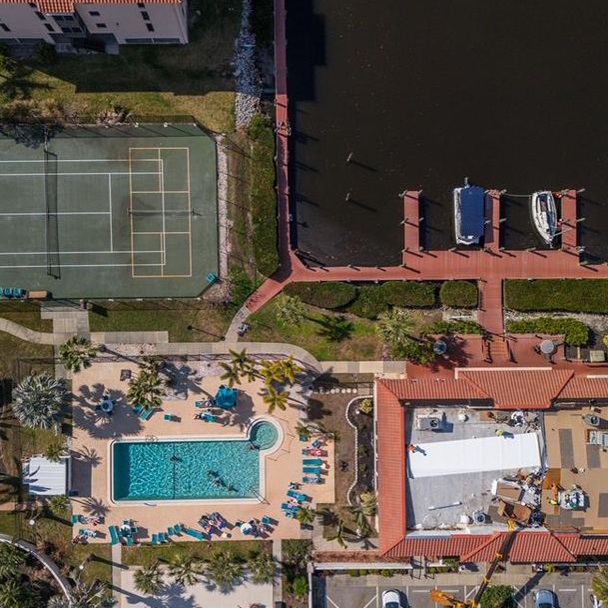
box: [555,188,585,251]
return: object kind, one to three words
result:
pier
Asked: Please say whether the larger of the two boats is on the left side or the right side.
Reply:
right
